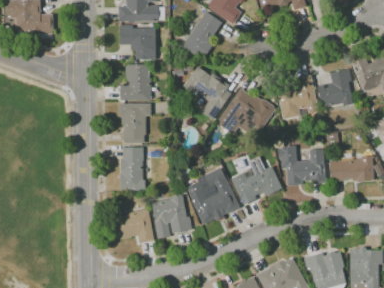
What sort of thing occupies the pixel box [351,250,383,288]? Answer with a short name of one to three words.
house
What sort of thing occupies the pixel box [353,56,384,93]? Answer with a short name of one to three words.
house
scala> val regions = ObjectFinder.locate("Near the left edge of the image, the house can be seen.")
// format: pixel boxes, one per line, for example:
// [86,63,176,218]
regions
[4,0,52,34]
